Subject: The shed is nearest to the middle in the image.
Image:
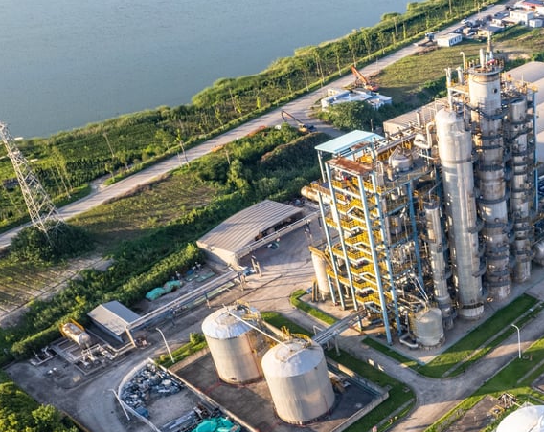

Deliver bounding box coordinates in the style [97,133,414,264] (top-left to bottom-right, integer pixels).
[191,202,304,267]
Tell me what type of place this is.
industrial area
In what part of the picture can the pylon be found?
left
